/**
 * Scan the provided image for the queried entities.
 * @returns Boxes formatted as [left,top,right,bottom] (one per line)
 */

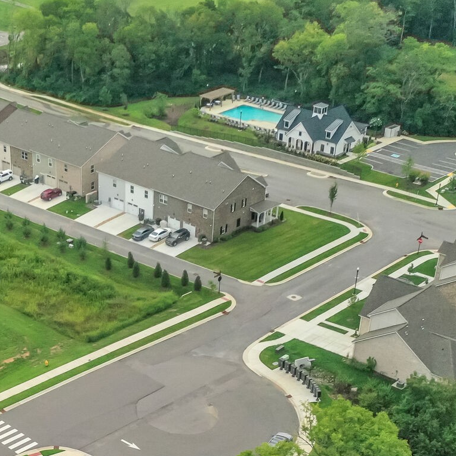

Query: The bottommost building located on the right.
[350,275,456,388]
